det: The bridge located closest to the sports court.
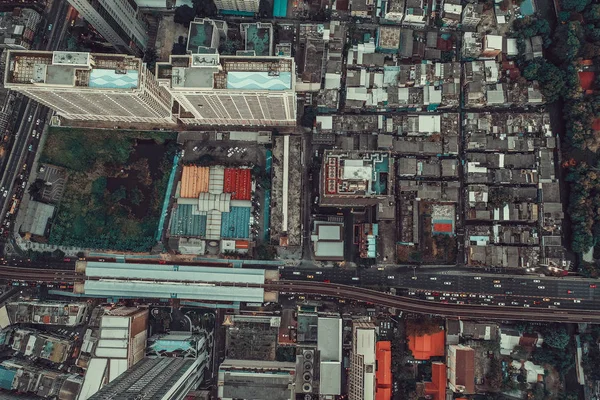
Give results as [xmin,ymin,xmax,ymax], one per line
[0,265,600,325]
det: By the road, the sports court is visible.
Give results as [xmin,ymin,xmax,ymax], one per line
[432,218,456,237]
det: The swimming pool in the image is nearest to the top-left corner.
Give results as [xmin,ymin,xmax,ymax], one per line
[89,69,138,88]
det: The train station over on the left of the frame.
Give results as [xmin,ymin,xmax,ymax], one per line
[73,260,279,303]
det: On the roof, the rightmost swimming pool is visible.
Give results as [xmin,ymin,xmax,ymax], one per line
[226,71,291,90]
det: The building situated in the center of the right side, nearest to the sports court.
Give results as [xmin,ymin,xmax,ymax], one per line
[429,203,455,218]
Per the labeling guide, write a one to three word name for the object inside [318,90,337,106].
house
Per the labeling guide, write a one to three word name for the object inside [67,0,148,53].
building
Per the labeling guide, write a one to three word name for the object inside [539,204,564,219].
house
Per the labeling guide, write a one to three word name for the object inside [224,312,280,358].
building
